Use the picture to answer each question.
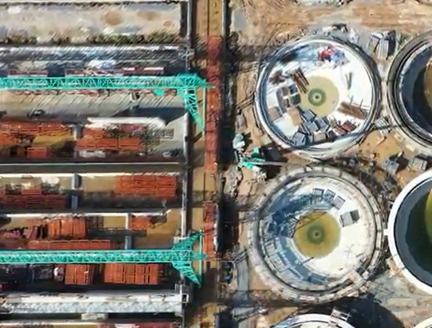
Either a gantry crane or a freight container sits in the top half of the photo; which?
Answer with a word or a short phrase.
gantry crane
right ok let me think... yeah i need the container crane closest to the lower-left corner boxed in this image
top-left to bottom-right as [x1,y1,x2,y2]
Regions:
[0,228,208,285]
